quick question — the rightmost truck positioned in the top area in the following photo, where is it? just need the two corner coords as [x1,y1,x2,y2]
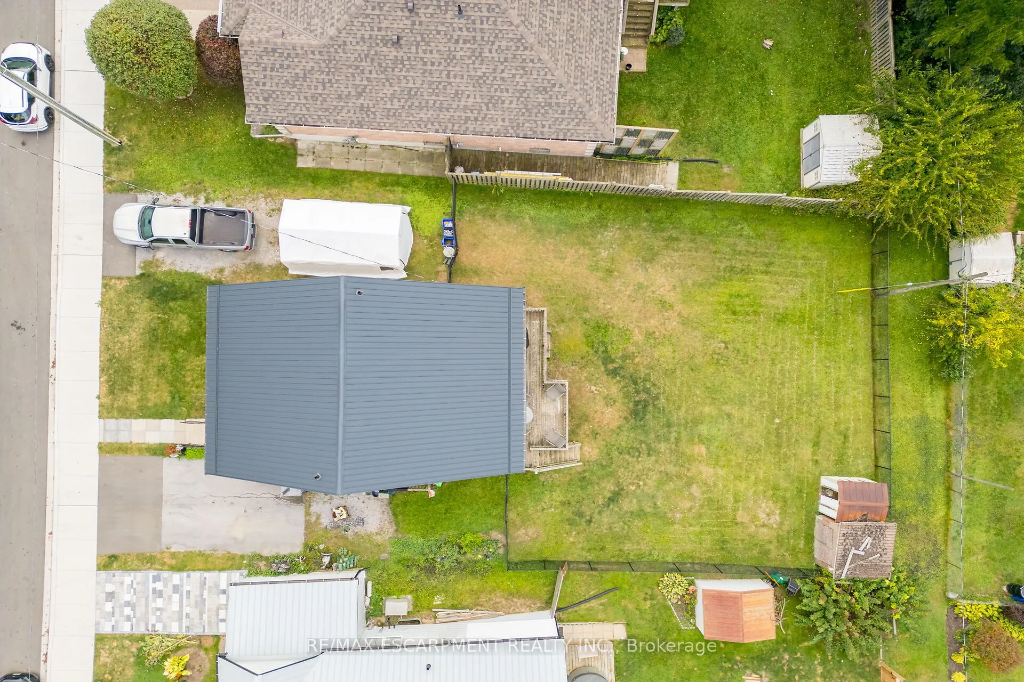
[111,195,258,253]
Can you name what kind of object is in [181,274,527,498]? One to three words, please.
house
